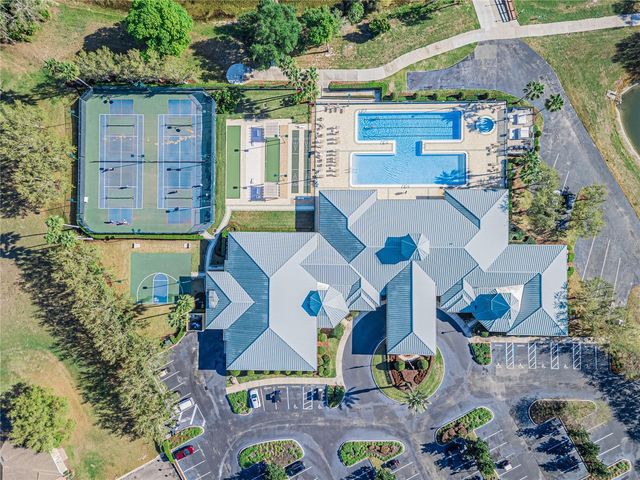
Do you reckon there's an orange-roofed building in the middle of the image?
No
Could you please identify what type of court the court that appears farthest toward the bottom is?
basketball court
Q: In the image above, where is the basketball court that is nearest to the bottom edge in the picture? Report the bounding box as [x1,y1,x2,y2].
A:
[131,253,191,303]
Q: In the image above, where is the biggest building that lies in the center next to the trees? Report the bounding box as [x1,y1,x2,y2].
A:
[205,189,568,371]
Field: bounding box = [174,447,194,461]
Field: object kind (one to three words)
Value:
car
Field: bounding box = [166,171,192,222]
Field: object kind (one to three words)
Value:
sports court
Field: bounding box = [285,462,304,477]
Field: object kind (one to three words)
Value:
car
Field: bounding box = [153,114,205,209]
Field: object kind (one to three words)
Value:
tennis court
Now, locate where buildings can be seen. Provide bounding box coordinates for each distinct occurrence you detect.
[0,438,75,480]
[205,189,568,371]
